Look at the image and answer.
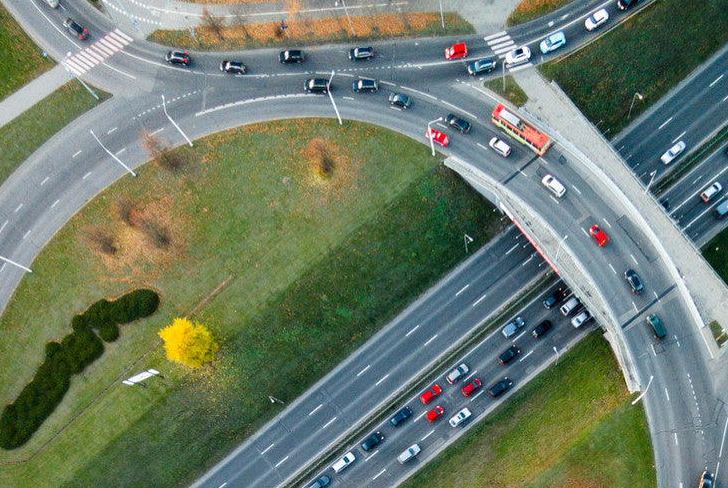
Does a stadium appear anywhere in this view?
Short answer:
No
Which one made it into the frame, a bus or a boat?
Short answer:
bus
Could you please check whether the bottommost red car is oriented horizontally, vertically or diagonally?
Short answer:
diagonally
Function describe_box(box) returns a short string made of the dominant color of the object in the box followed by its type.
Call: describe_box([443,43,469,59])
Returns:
red car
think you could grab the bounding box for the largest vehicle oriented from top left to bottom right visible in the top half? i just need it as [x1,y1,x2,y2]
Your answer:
[491,102,551,159]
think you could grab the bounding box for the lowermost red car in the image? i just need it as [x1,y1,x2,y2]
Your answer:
[422,403,447,425]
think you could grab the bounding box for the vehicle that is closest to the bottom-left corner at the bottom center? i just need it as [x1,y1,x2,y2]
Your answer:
[308,474,332,488]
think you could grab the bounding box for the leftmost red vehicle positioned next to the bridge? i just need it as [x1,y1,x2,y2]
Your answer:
[423,128,451,146]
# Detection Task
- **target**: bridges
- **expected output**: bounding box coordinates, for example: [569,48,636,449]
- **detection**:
[443,80,728,393]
